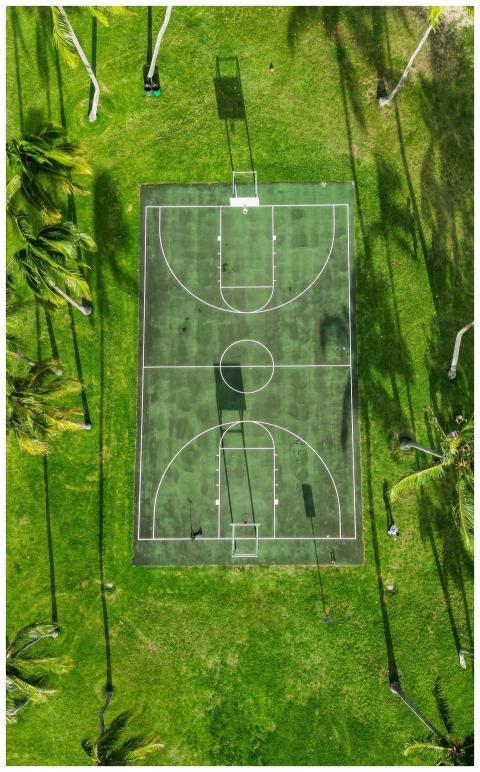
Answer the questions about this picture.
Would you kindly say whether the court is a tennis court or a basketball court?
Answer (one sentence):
What you see as the court is a basketball court.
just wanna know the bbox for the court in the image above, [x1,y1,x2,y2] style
[133,180,364,567]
